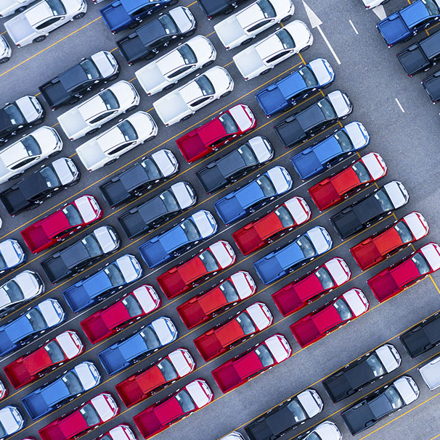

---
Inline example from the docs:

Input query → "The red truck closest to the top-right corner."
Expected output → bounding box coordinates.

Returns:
[308,156,384,213]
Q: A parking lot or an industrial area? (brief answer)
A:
parking lot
